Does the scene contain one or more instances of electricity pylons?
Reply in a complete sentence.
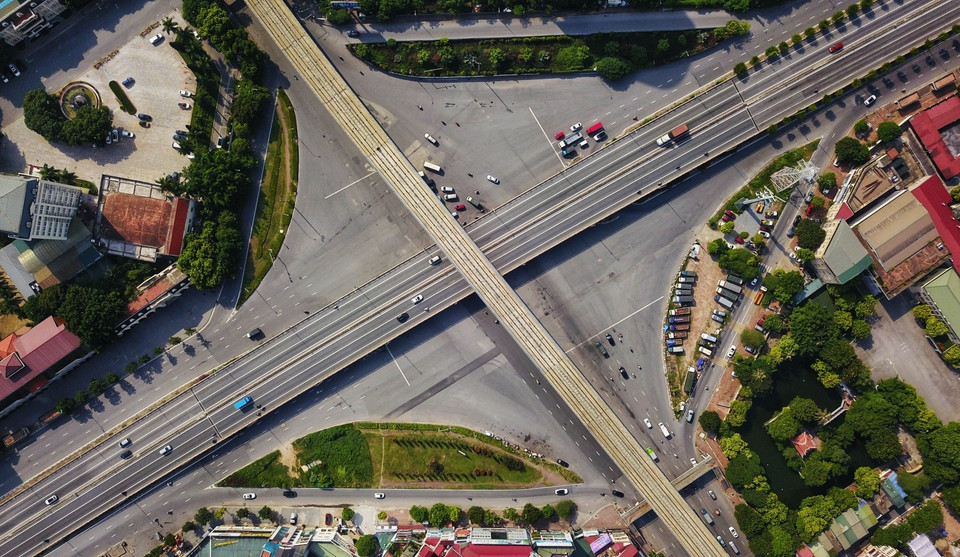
Yes, looking at the shot, I can spot an electricity pylon.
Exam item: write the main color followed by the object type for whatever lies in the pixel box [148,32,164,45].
white vehicle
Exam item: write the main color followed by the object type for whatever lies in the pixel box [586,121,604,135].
red vehicle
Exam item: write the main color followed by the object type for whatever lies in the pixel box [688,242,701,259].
white vehicle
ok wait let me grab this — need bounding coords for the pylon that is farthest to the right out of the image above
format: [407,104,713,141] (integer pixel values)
[772,161,819,191]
